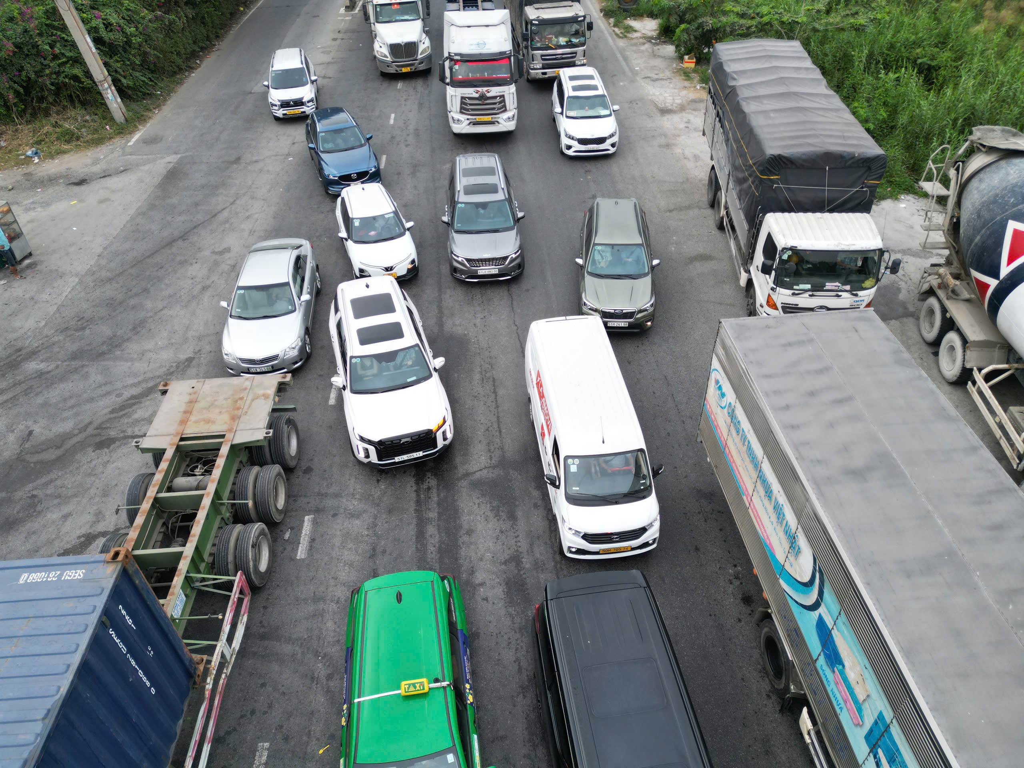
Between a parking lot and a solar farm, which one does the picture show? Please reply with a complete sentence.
The picture captures a parking lot.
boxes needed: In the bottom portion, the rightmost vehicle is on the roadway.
[692,308,1024,768]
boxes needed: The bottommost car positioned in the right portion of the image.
[529,572,719,768]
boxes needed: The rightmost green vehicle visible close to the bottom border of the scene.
[338,573,482,768]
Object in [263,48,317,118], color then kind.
white car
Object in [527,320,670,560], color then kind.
white van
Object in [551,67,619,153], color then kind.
white car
